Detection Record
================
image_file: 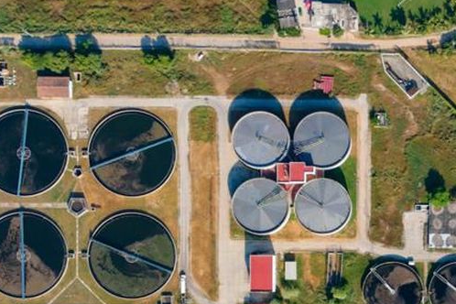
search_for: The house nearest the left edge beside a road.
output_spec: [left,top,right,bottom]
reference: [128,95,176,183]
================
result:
[36,77,72,99]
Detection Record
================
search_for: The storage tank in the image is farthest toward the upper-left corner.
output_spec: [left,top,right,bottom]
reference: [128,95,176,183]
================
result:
[0,105,70,198]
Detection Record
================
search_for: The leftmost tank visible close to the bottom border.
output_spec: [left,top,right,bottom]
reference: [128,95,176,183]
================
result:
[0,209,69,300]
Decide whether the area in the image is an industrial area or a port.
industrial area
